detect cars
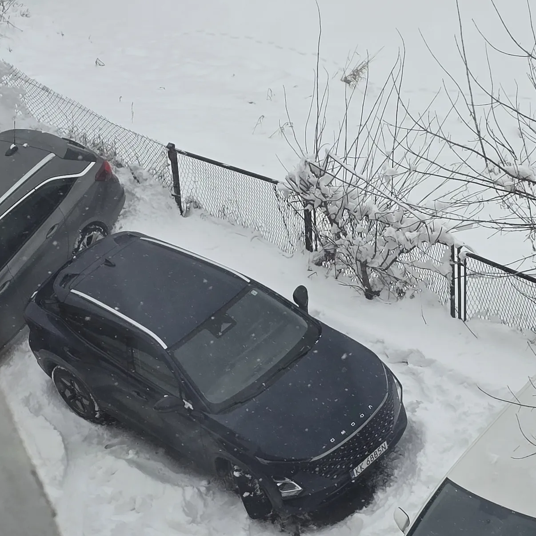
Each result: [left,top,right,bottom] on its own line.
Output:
[0,126,114,345]
[393,382,536,536]
[27,232,405,523]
